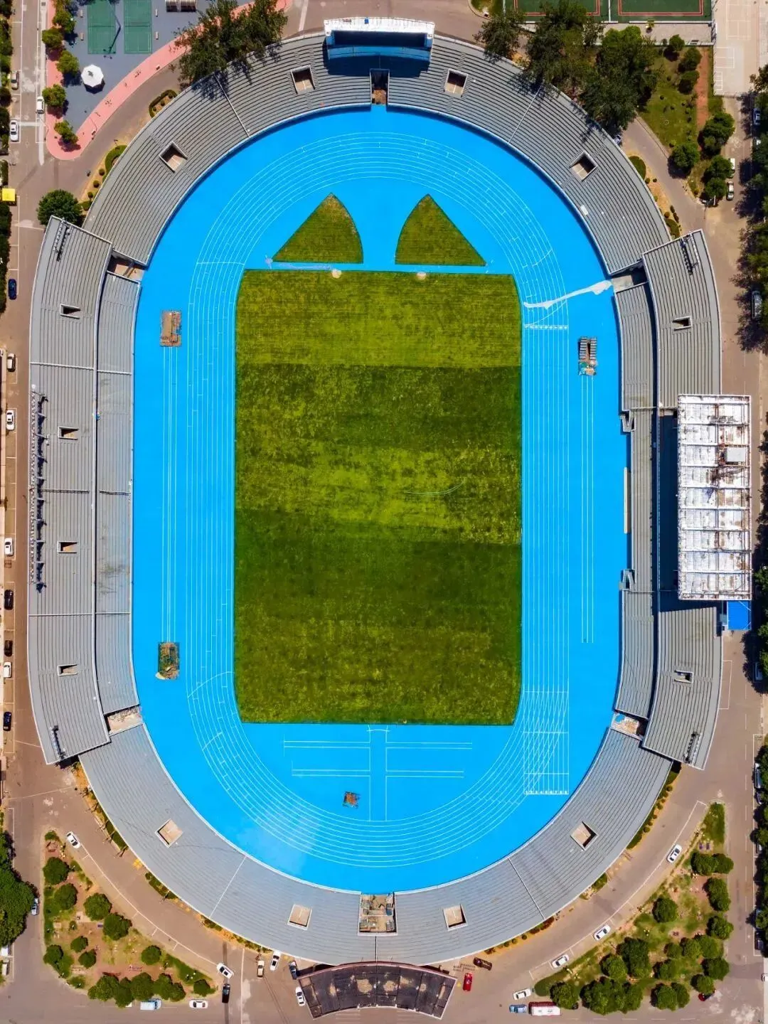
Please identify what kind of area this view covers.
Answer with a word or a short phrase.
sports ground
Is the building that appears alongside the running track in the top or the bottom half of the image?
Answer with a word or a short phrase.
bottom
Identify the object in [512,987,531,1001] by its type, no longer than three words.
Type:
car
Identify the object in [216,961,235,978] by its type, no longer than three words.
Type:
car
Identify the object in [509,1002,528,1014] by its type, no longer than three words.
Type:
vehicle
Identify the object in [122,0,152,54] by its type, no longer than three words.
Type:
sports court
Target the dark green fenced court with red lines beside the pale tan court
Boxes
[611,0,711,21]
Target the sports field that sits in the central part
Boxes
[233,269,523,726]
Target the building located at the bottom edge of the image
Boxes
[297,963,457,1020]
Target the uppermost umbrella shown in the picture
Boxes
[82,65,104,87]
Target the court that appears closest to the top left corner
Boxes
[85,0,115,54]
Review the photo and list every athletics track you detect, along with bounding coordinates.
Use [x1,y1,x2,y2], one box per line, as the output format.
[135,107,629,889]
